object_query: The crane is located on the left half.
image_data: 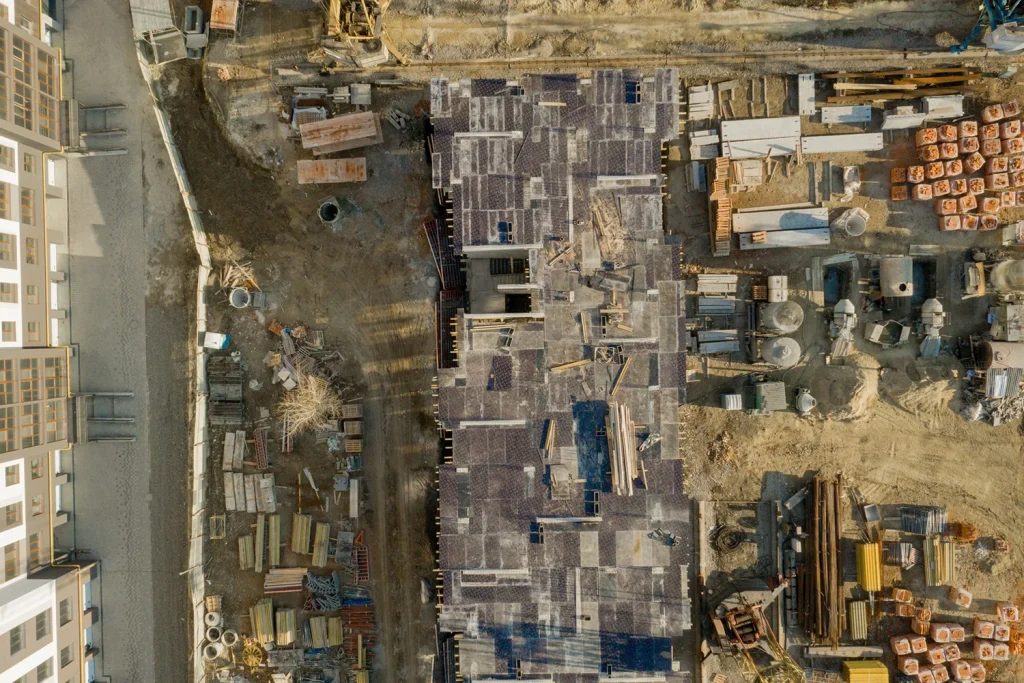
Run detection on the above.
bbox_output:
[314,0,412,72]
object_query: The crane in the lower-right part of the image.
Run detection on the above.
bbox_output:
[702,574,810,683]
